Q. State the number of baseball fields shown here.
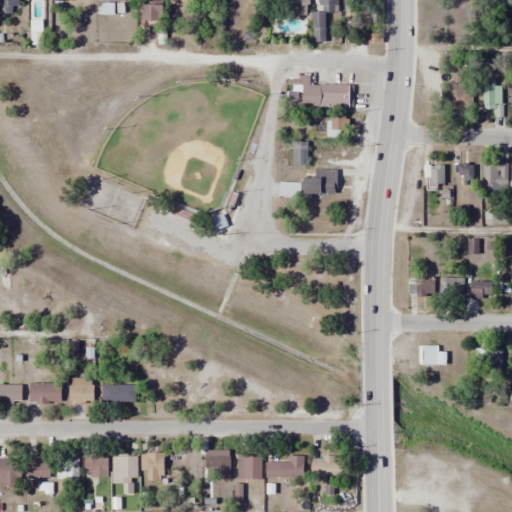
1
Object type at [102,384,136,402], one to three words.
house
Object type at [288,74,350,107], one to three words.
building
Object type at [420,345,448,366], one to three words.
building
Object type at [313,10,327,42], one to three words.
house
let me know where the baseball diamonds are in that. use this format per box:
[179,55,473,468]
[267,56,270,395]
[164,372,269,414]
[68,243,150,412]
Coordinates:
[95,82,264,210]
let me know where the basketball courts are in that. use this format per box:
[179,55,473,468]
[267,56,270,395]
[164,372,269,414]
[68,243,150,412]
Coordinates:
[90,182,146,228]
